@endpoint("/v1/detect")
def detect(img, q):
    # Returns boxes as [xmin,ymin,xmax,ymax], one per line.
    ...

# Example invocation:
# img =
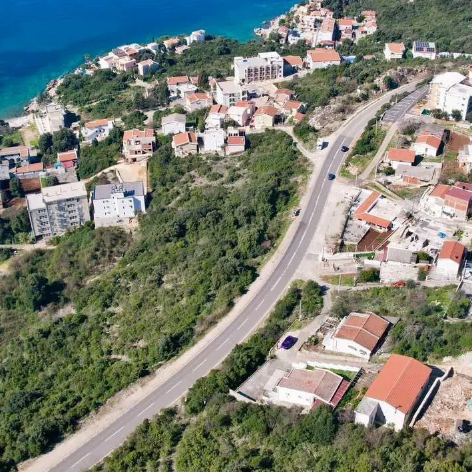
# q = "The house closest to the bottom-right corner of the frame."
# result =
[355,355,430,432]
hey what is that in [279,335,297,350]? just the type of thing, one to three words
car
